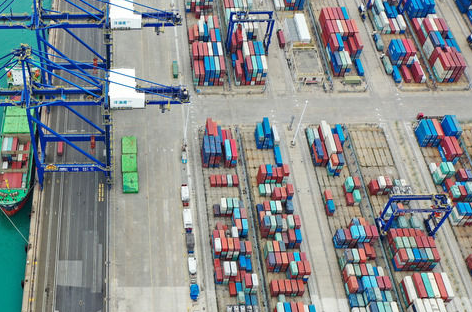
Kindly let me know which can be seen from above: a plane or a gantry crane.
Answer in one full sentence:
There is a gantry crane in the scene.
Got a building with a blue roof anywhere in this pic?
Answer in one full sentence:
No, there isn't any building with a blue roof down there.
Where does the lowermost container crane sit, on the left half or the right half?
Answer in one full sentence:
It is on the right.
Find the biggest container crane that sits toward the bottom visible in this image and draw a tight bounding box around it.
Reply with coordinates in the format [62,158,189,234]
[373,187,458,240]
